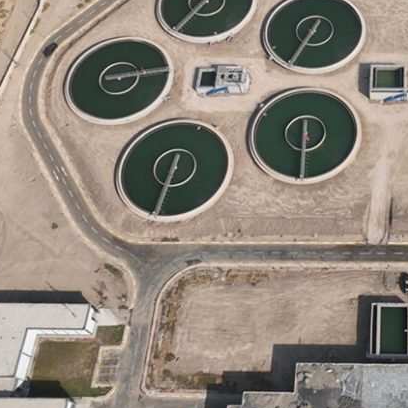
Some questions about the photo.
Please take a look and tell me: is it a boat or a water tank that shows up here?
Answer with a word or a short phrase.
water tank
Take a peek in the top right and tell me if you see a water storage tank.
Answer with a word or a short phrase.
Yes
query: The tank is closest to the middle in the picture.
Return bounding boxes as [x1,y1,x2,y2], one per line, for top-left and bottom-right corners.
[118,118,233,220]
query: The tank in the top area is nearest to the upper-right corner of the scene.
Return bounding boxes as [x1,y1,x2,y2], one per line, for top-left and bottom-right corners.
[265,0,365,75]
